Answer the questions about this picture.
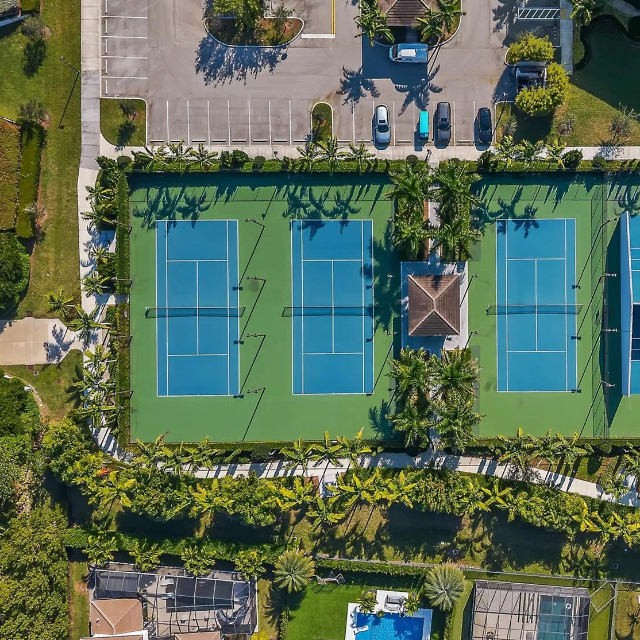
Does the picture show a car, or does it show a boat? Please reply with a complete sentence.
I can see a car in this picture.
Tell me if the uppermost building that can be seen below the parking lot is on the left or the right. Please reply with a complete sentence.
The uppermost building that can be seen below the parking lot is on the right side of the image.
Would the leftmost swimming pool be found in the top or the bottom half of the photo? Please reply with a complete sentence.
The leftmost swimming pool is in the bottom half of the image.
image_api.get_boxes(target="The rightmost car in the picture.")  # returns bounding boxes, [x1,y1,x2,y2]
[476,108,493,146]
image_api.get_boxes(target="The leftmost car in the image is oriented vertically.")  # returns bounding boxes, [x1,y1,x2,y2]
[373,107,391,146]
